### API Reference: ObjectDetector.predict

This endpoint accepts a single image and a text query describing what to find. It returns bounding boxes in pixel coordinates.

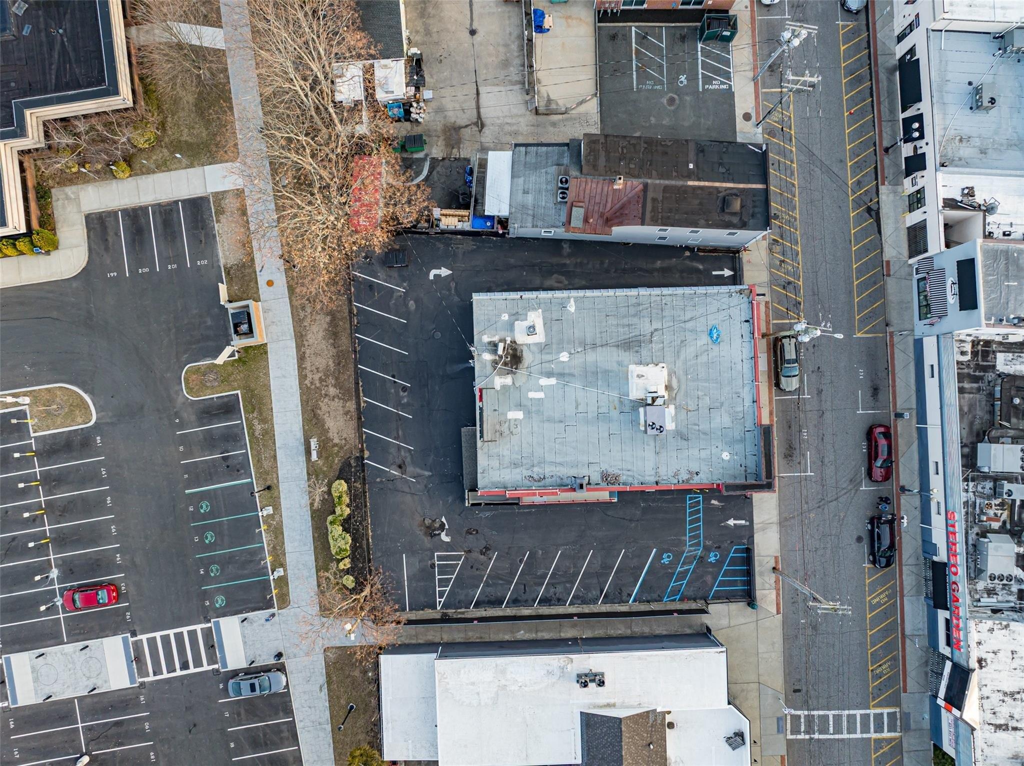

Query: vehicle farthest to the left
[64,582,120,613]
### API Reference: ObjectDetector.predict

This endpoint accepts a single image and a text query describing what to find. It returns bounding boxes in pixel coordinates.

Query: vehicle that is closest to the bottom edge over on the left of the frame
[228,668,288,698]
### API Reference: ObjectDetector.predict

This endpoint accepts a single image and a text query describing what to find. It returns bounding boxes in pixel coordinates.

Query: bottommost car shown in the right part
[865,516,898,574]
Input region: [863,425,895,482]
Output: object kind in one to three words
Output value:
car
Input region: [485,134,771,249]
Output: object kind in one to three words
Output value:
building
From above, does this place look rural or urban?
urban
